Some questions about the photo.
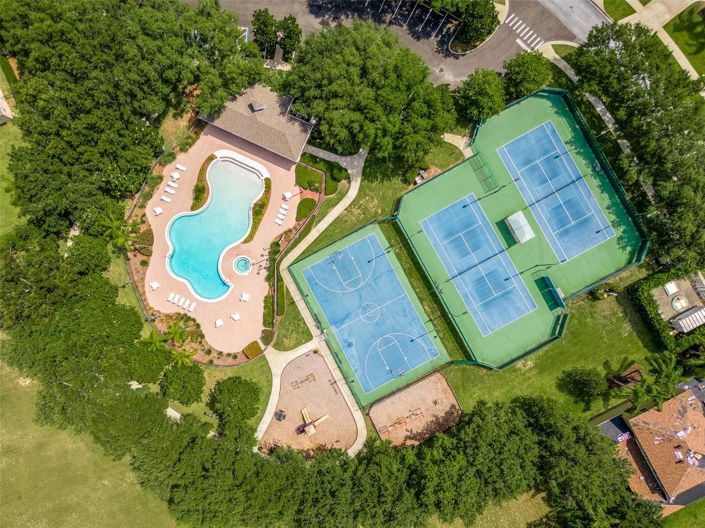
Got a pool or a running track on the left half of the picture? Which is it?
pool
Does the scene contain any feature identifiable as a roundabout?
No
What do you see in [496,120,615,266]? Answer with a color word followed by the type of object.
blue tennis court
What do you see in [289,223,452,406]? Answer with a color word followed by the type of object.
blue basketball court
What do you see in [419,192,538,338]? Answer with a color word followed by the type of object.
blue tennis court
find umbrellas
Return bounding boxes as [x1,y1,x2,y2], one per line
[283,191,293,201]
[230,311,241,322]
[149,279,160,291]
[153,205,164,217]
[170,171,181,182]
[240,293,249,302]
[214,318,224,327]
